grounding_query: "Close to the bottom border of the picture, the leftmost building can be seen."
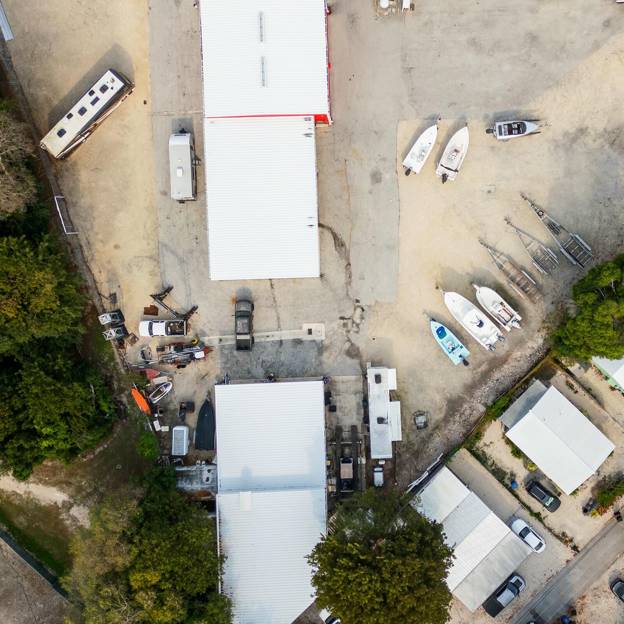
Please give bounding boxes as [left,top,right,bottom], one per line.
[214,379,329,624]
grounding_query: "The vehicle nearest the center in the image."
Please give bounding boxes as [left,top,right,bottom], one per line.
[232,299,254,351]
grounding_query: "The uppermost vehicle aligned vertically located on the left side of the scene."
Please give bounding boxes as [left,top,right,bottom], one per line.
[170,126,205,205]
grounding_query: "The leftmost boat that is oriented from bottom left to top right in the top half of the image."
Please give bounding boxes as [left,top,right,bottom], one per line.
[404,125,437,176]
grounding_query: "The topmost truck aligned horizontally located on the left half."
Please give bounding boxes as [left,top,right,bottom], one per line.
[139,318,189,339]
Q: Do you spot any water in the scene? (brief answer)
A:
No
